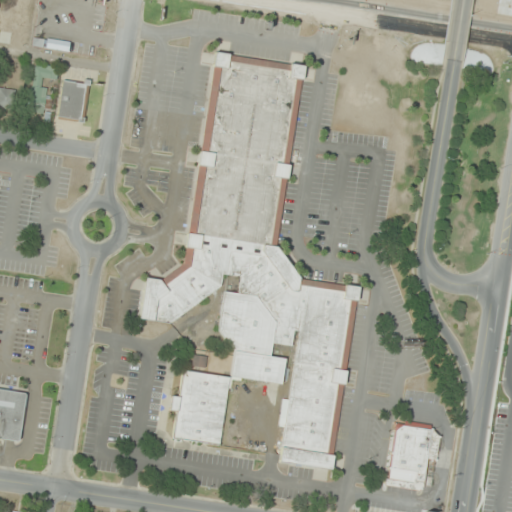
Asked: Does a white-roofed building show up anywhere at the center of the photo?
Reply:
Yes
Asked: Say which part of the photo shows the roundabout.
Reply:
left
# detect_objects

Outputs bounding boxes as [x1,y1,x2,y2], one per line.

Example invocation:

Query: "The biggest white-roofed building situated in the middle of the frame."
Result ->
[142,52,362,470]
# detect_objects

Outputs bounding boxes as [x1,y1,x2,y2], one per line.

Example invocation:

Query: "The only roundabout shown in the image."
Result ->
[68,198,126,254]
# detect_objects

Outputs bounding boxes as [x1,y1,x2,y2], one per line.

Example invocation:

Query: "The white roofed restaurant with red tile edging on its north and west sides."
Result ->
[386,422,442,490]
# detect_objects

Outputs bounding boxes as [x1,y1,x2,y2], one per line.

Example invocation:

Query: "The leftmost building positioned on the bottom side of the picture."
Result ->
[0,388,30,441]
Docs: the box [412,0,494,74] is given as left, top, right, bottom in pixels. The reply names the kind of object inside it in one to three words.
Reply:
overpass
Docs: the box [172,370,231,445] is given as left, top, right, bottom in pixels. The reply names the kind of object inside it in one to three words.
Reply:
building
